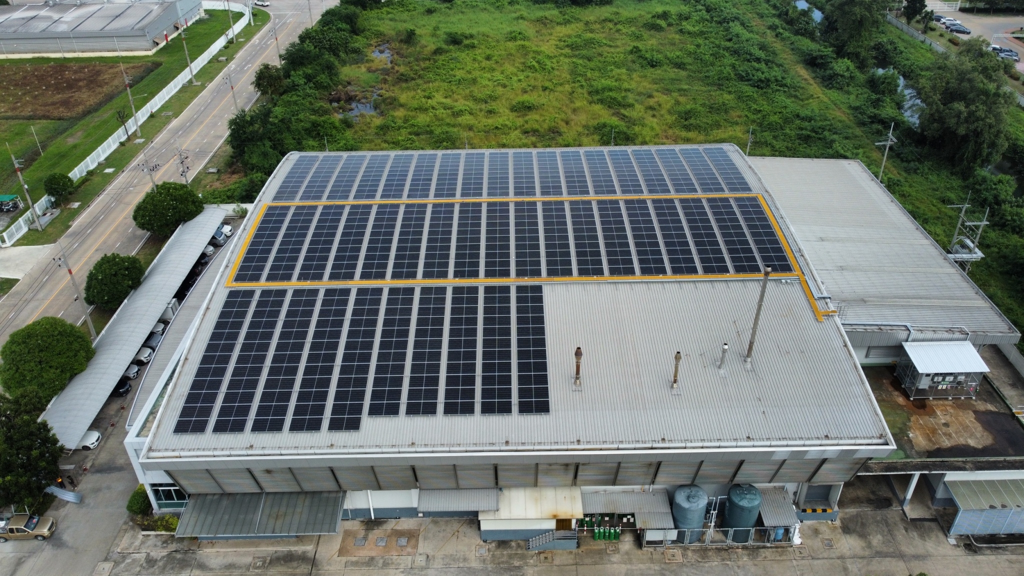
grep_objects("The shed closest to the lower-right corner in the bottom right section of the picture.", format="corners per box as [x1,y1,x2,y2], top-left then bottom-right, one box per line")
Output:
[927,478,1024,543]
